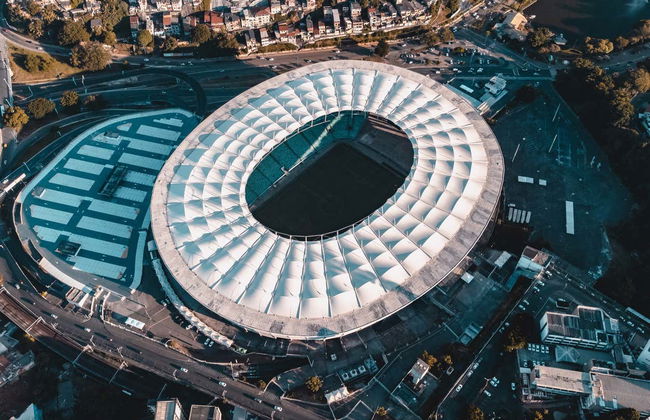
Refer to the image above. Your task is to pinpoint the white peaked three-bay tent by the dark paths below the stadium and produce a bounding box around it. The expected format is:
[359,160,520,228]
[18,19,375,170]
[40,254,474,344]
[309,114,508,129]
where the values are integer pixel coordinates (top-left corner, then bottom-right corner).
[322,386,351,407]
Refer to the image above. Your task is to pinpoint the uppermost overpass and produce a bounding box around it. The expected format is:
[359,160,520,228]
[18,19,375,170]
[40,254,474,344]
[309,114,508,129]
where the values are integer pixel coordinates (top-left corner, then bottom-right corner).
[90,63,206,117]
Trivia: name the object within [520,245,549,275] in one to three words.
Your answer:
building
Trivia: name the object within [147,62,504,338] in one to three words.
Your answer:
stadium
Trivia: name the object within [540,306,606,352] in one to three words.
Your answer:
building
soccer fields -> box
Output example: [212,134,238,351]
[252,132,406,239]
